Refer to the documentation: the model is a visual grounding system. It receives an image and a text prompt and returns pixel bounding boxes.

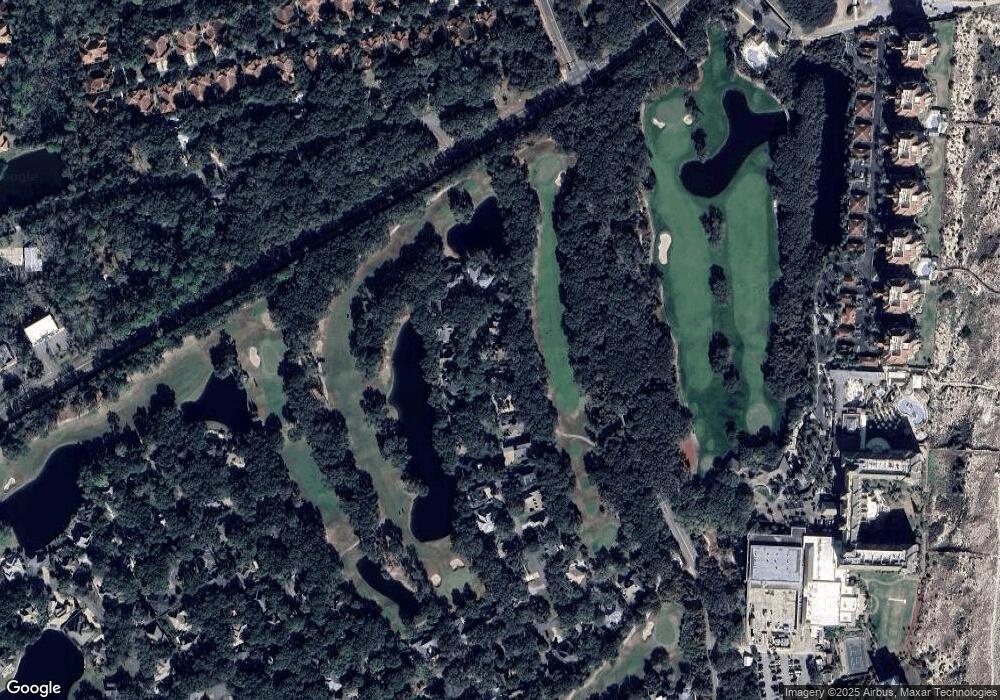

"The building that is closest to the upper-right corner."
[892,31,941,68]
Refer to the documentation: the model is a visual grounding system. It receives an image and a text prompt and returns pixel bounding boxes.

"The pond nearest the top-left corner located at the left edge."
[0,149,67,214]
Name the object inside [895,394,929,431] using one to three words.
swimming pool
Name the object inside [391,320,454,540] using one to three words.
pond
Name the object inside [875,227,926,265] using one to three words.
building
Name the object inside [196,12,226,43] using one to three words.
house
